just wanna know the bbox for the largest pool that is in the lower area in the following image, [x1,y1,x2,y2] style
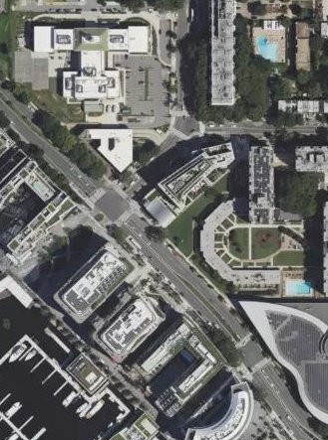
[281,272,314,297]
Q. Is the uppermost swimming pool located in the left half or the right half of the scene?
right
